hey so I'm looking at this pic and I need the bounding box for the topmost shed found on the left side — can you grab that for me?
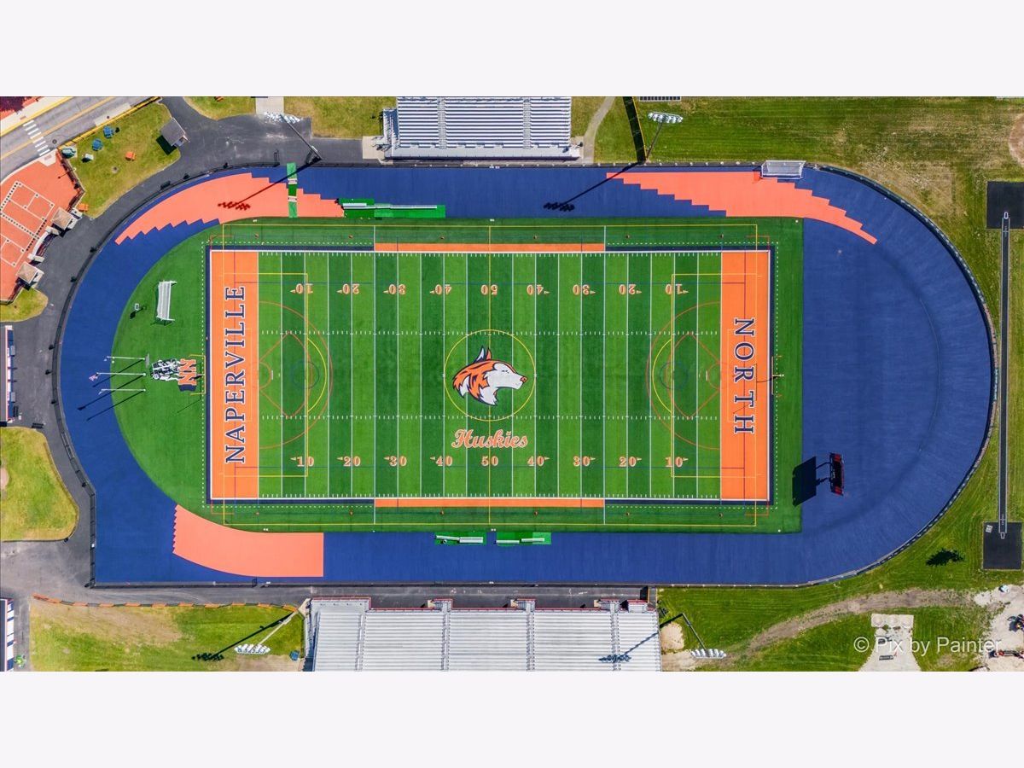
[162,120,191,149]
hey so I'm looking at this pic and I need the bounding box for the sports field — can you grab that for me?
[109,217,803,534]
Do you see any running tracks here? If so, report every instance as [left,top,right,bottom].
[61,165,991,585]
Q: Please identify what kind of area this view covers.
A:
sports ground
